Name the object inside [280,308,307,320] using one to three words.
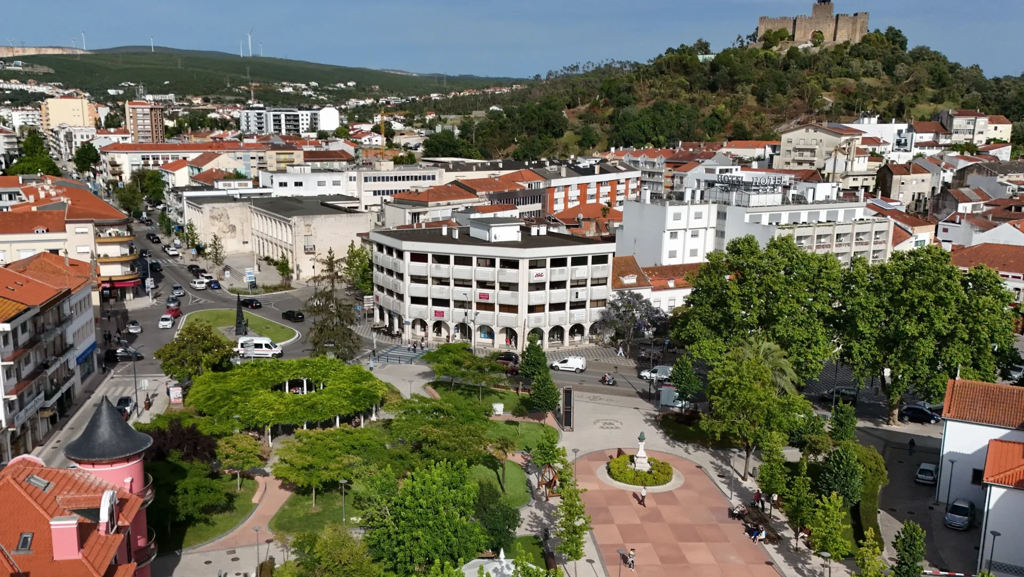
vehicle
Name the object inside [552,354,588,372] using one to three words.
vehicle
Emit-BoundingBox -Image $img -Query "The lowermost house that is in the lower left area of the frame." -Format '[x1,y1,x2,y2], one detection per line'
[0,395,166,577]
